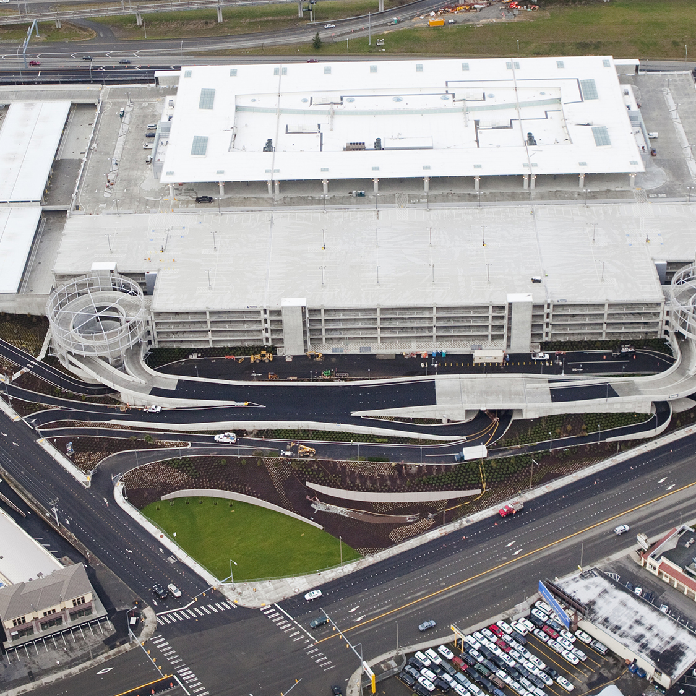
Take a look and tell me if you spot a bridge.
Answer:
Yes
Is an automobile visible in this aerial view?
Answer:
Yes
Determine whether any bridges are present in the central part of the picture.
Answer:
Yes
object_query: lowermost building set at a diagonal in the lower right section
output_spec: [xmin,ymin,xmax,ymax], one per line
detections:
[553,566,696,693]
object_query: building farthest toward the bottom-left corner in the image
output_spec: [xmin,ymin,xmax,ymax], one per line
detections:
[0,507,108,641]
